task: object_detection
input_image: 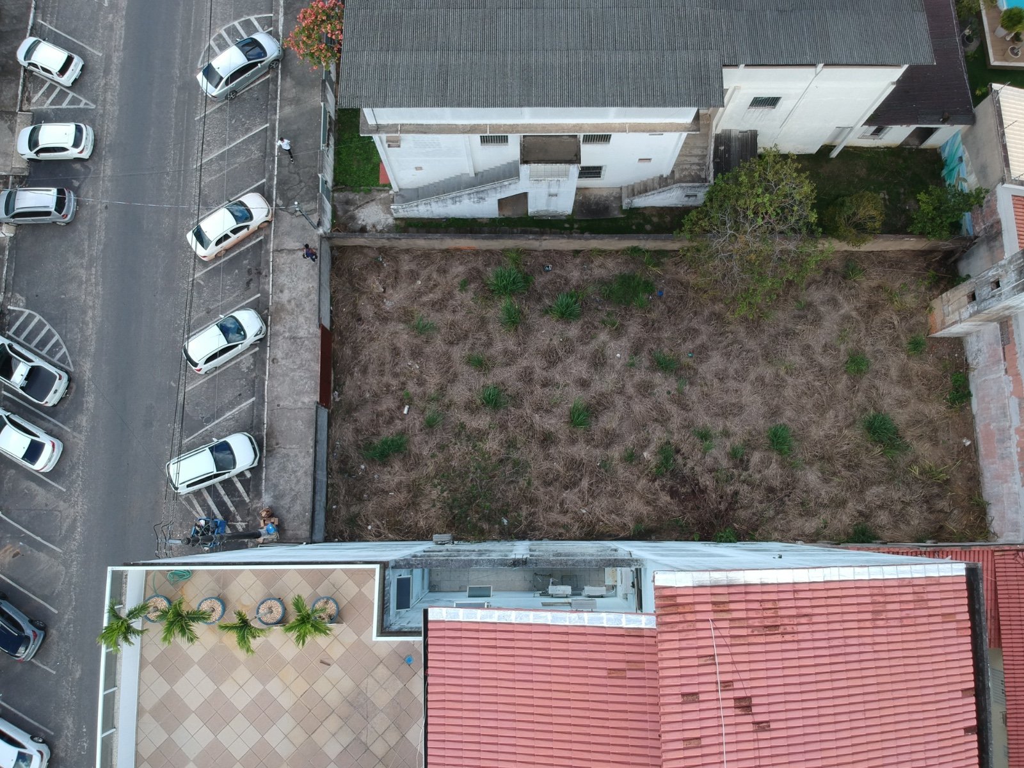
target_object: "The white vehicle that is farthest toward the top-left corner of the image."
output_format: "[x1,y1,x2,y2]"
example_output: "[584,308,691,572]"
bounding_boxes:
[11,33,89,90]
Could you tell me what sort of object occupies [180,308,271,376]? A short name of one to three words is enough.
car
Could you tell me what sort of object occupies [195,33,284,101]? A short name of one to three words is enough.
car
